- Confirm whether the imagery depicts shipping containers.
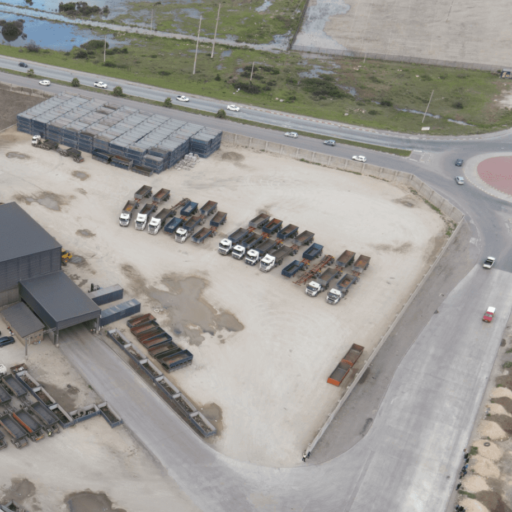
Yes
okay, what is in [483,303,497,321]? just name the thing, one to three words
vehicle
